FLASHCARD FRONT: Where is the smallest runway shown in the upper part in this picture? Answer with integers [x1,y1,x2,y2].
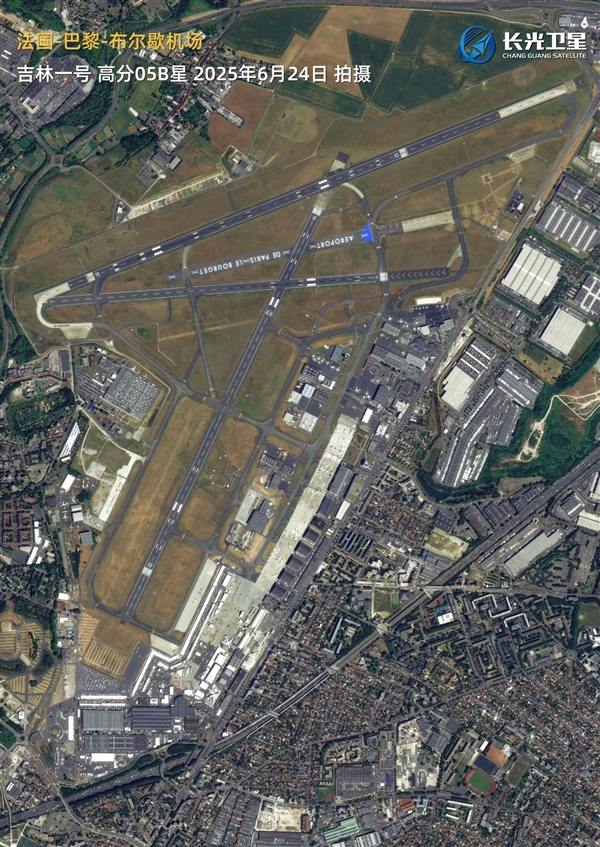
[166,223,375,283]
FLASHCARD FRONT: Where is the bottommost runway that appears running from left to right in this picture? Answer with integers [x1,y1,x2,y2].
[46,266,449,307]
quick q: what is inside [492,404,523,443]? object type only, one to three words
building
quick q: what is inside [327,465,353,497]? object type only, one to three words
hangar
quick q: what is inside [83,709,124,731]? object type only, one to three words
building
